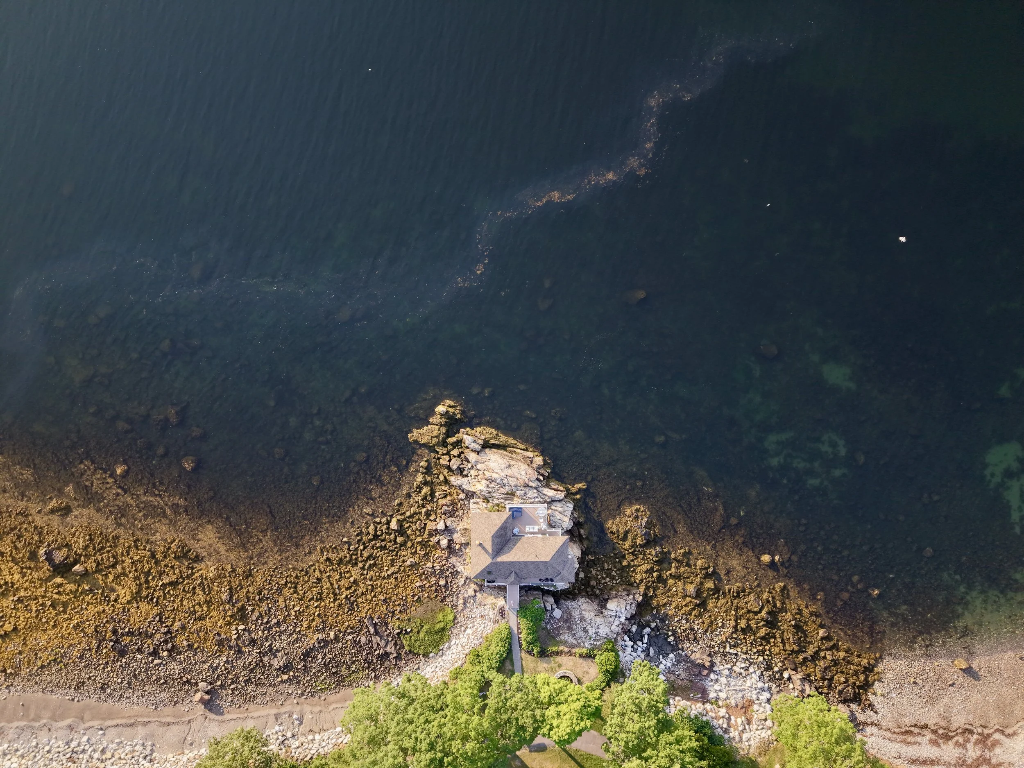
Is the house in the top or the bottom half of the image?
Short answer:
bottom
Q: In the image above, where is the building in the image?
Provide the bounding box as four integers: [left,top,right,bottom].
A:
[470,503,575,586]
